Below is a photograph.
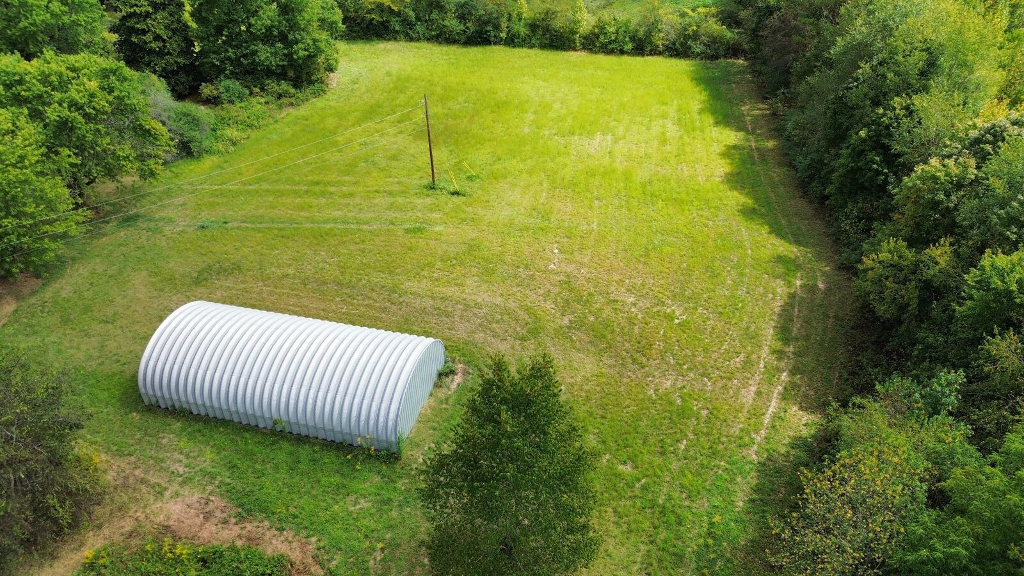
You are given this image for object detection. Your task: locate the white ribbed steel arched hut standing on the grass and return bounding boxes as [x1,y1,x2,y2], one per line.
[136,301,448,462]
